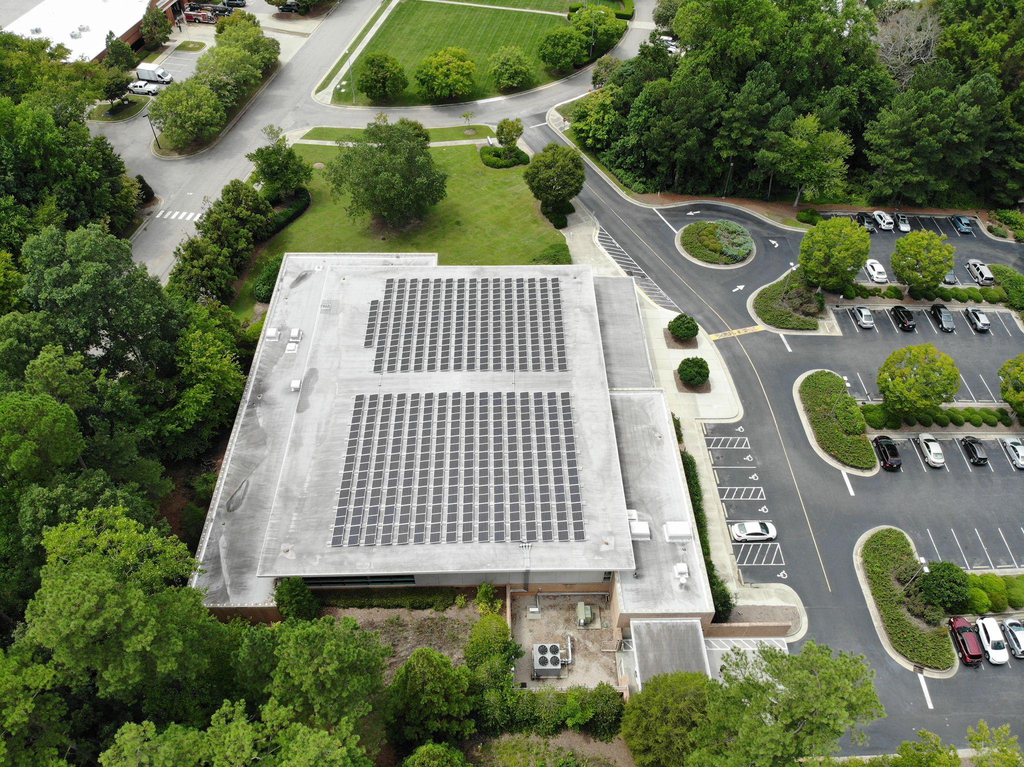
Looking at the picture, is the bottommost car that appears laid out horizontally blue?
No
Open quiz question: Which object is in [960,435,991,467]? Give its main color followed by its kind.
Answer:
gray car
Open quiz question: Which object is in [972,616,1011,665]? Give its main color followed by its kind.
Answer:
white car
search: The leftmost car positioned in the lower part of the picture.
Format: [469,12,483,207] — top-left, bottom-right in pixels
[730,520,778,542]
